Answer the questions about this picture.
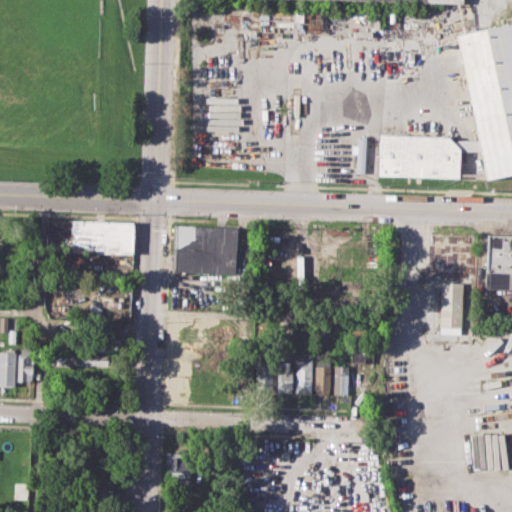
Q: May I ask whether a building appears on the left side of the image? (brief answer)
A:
Yes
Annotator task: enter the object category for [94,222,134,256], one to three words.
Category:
building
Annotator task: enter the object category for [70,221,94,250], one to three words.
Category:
building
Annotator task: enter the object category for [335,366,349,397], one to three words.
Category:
house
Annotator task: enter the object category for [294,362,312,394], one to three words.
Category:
house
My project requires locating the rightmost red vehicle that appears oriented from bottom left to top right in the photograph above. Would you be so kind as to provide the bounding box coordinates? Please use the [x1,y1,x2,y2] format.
[486,352,506,370]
